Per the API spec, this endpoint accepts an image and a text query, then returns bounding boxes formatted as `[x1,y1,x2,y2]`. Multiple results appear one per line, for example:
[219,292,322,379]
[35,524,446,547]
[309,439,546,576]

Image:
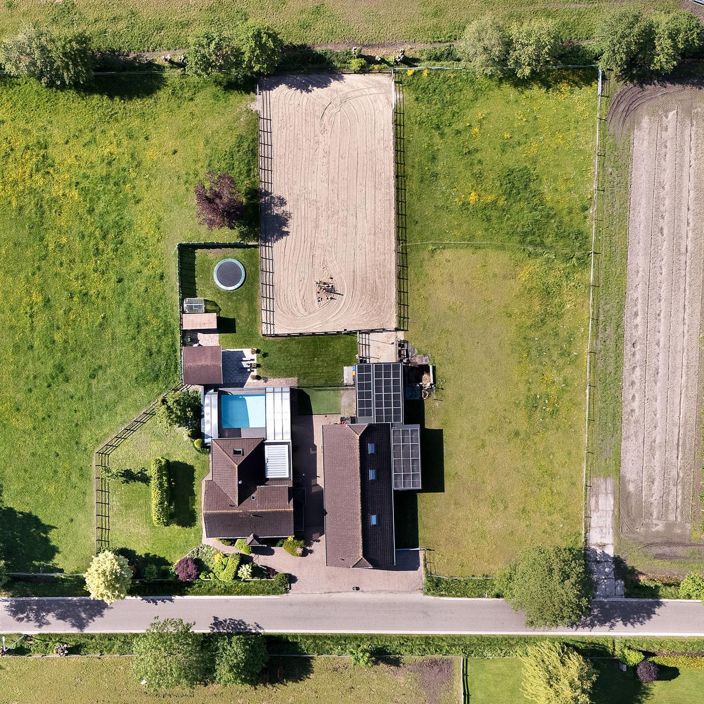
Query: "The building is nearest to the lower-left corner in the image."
[203,437,306,546]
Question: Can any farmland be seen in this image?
Yes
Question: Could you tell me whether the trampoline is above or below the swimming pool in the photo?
above it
